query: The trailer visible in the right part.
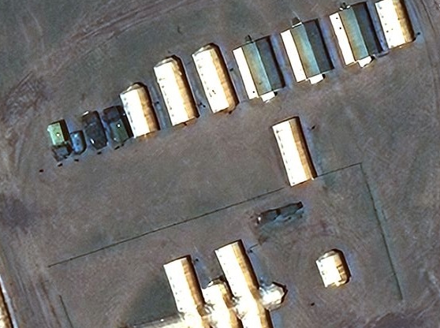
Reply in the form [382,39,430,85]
[255,201,301,229]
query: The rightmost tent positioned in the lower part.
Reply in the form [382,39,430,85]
[317,249,349,288]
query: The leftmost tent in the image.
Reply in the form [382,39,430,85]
[120,83,157,139]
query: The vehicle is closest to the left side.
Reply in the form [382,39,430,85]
[45,122,70,161]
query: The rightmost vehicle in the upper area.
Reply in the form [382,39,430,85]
[103,107,130,145]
